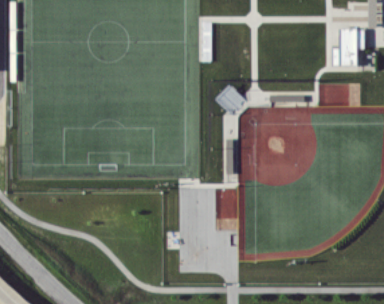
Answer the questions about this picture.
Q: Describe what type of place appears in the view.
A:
sports ground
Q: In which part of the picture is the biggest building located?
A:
top right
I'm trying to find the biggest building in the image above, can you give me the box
[340,28,359,66]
